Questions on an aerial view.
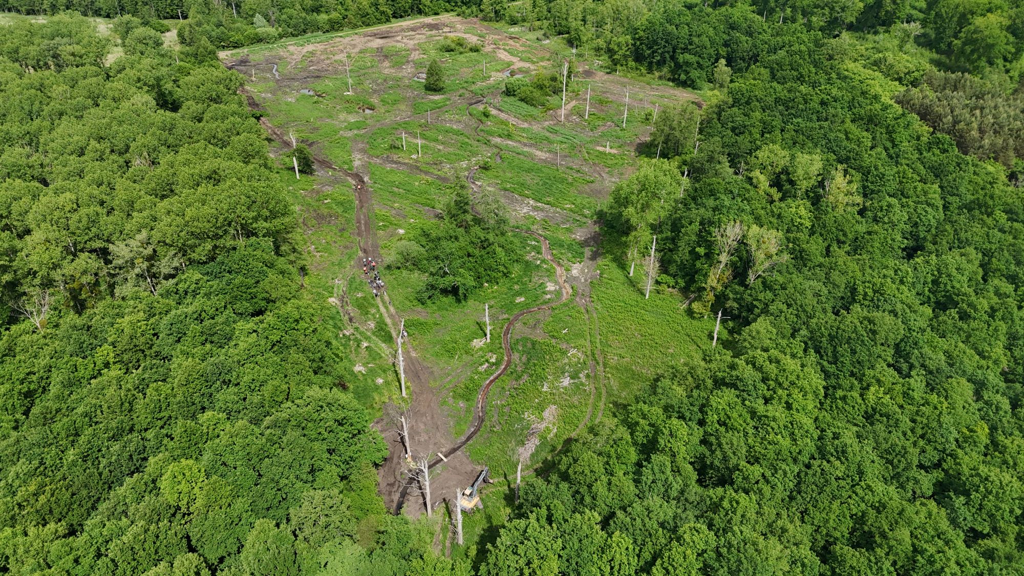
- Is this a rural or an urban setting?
rural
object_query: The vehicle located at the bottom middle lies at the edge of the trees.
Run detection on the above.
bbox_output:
[460,465,494,514]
